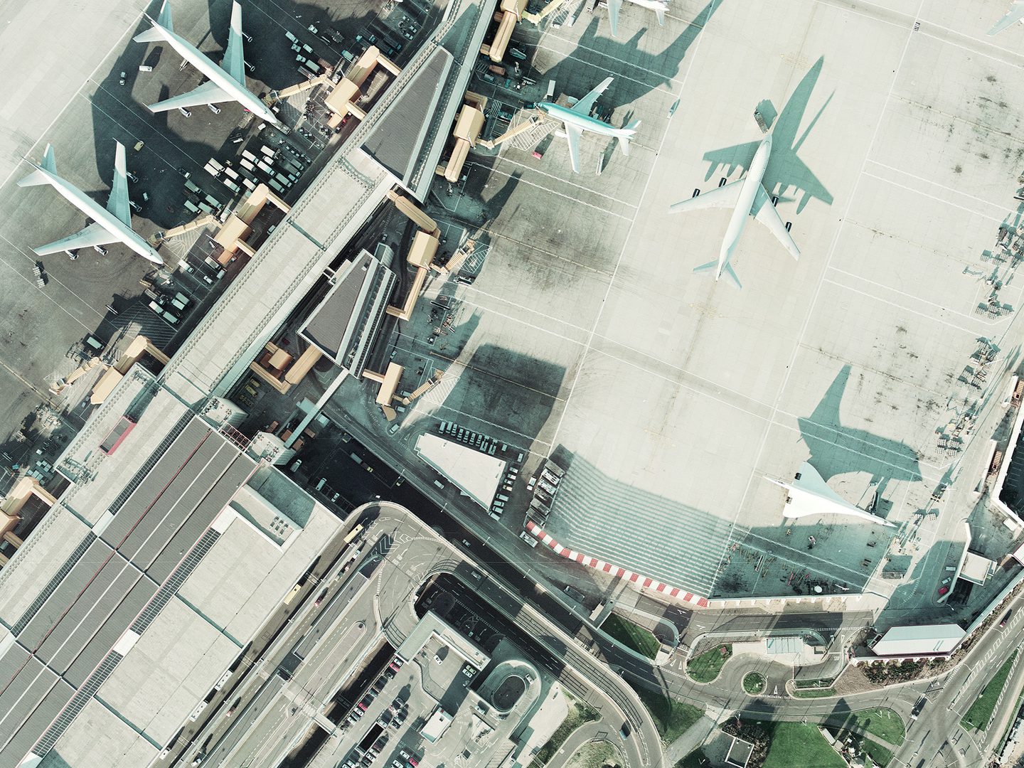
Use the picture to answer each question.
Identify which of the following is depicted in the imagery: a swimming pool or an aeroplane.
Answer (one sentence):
The image shows an aeroplane.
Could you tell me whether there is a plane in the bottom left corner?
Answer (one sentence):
No, in the bottom left corner there is no plane.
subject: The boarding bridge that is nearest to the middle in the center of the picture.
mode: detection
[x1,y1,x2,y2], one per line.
[397,372,445,404]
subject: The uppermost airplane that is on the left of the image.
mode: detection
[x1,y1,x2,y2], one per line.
[137,0,278,124]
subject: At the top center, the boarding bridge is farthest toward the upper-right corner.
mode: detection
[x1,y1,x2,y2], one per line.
[527,0,570,25]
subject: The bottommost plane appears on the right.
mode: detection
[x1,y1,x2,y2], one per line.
[770,457,896,527]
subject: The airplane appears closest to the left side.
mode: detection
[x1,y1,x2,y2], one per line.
[20,139,162,265]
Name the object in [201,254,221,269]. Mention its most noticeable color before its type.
white vehicle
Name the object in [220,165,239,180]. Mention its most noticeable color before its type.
white vehicle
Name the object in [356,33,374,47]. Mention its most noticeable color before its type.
black vehicle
